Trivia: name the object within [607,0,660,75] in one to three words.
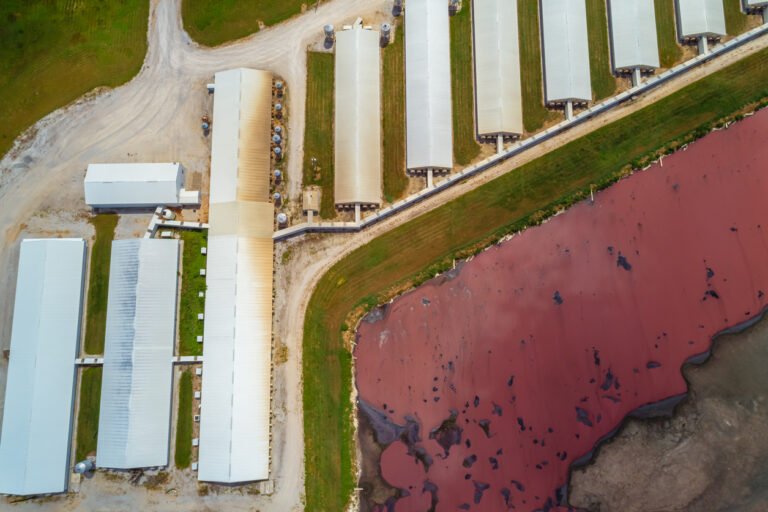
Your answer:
barn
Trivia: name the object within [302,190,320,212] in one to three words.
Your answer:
shed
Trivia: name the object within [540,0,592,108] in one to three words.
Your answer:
barn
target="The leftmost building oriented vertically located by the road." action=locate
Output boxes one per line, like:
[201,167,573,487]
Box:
[0,238,91,495]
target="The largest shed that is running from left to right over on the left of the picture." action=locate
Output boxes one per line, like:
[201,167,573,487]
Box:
[84,164,186,207]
